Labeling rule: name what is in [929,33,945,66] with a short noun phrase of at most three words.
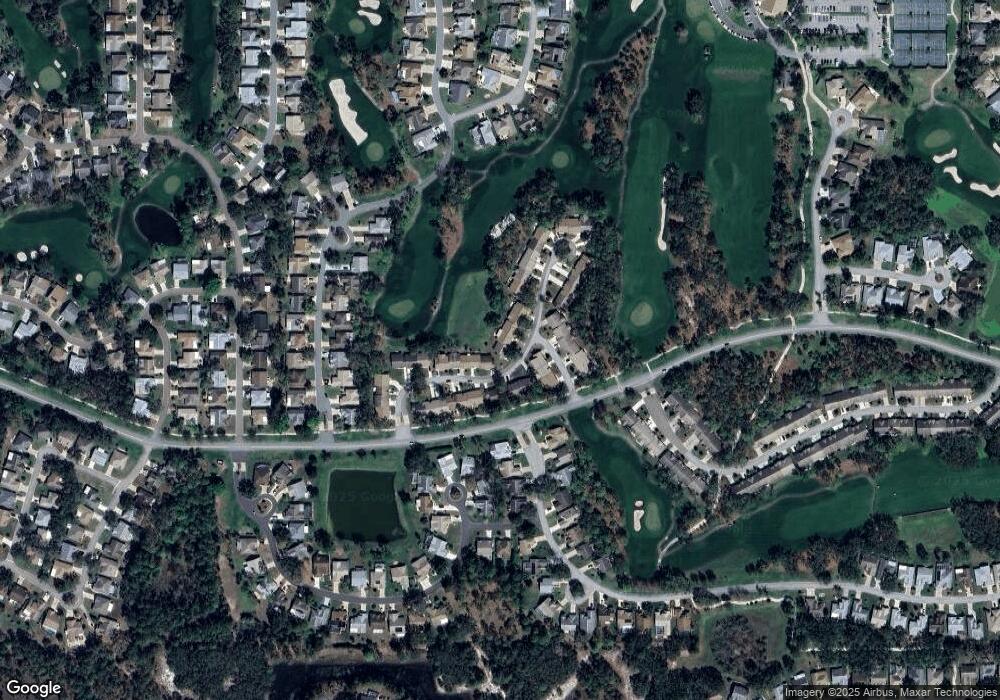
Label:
tennis court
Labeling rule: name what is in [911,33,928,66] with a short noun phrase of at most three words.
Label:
tennis court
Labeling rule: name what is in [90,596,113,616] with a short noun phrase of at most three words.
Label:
house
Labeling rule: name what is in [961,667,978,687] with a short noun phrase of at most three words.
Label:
house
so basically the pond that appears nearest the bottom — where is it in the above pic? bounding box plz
[329,470,399,541]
